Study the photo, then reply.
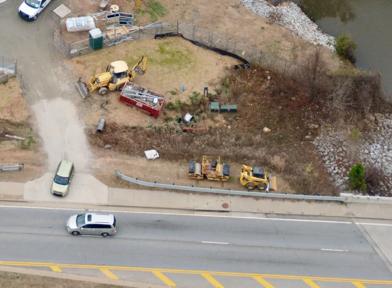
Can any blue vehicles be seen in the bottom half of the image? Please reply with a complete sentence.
No, I can find no blue vehicle in the bottom half of the image.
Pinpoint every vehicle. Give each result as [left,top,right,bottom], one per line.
[79,49,144,108]
[244,168,275,193]
[188,160,230,183]
[66,215,117,239]
[51,158,75,199]
[16,0,49,17]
